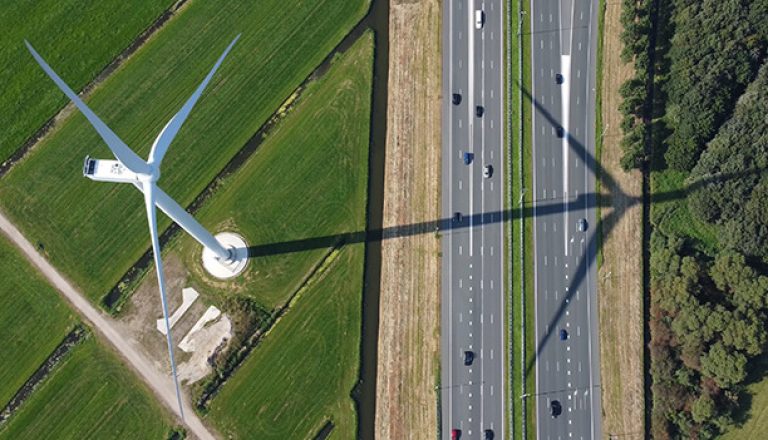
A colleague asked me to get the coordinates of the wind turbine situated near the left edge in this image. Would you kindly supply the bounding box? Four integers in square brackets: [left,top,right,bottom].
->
[25,35,239,419]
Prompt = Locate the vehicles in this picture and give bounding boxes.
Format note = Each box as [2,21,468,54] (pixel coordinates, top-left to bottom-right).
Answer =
[476,106,482,118]
[464,352,470,365]
[578,219,584,232]
[556,127,562,138]
[452,94,458,105]
[464,152,470,165]
[551,400,558,416]
[451,430,457,440]
[556,74,561,84]
[476,10,482,28]
[484,430,490,440]
[483,166,489,178]
[560,329,566,340]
